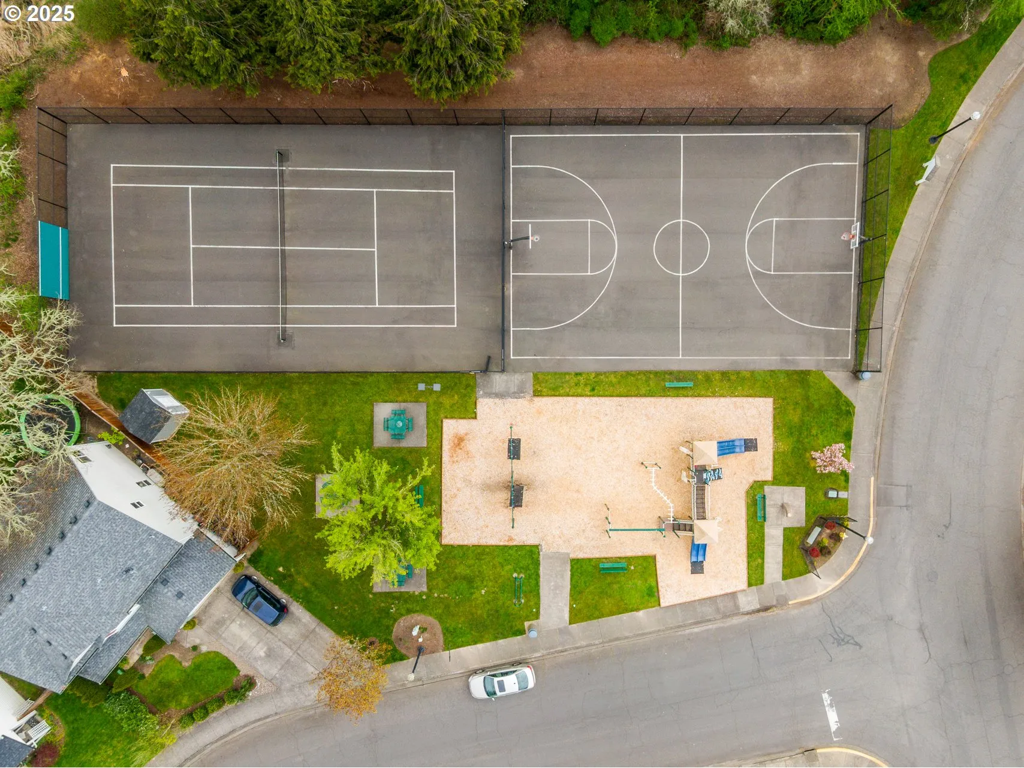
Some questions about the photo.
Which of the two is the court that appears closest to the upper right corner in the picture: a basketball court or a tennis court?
basketball court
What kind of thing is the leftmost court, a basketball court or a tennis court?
tennis court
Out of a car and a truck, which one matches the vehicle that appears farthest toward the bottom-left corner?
car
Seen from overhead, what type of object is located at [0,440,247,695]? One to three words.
house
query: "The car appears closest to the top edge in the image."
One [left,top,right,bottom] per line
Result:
[230,573,290,629]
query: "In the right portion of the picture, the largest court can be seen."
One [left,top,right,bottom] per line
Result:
[505,125,866,372]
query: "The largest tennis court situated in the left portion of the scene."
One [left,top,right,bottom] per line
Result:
[67,123,502,371]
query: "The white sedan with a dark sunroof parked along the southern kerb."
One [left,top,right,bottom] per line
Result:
[468,661,538,702]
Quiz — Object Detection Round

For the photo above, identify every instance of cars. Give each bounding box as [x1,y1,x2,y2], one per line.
[468,661,538,702]
[230,573,290,629]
